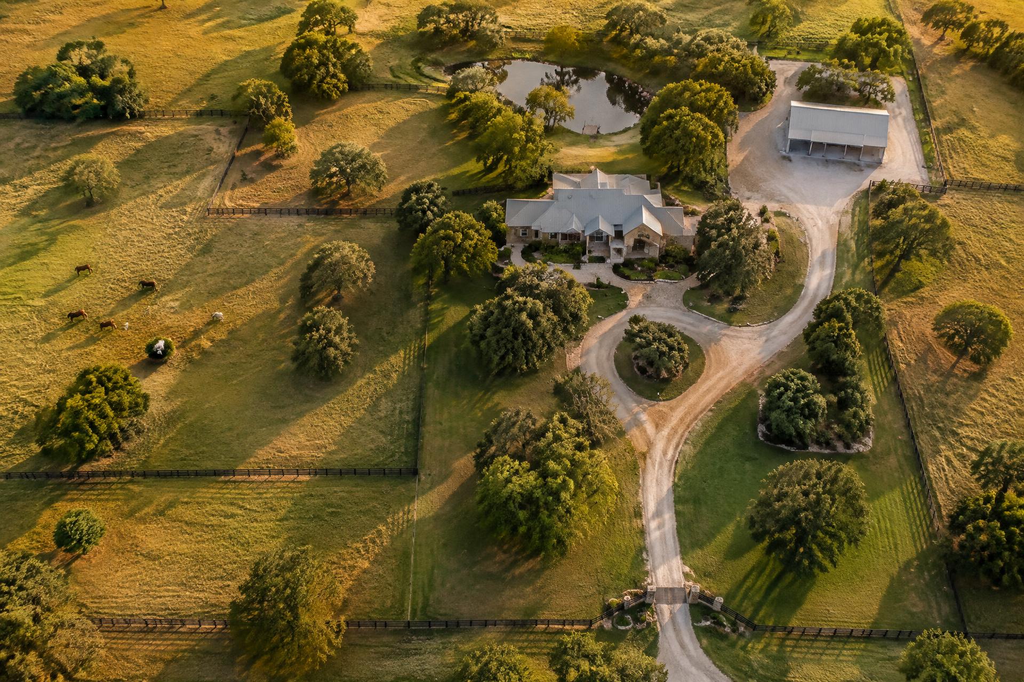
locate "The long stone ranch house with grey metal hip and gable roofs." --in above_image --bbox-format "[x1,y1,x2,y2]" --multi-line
[505,163,696,264]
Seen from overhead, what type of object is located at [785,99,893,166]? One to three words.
shed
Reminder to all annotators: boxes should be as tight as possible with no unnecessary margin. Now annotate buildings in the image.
[505,163,696,264]
[785,99,893,166]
